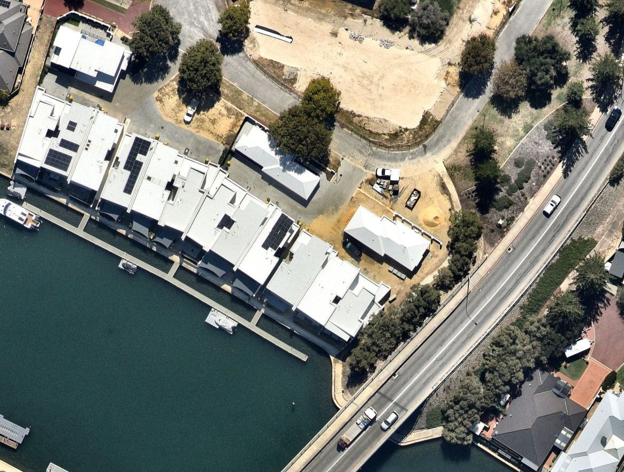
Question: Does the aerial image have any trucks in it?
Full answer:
Yes, there's a truck down there.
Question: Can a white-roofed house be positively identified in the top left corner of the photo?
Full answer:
Yes, there is a white-roofed house in the top left corner of the photo.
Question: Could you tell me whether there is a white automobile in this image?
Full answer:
Yes, the picture does show a white automobile.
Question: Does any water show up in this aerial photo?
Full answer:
Yes, some water is visible.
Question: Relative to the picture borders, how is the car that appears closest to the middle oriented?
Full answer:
In this picture, the car that appears closest to the middle lies at an angle.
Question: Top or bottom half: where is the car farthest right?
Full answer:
The top half of the photo is where the car farthest right is.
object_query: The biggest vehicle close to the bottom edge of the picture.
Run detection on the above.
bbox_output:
[337,406,379,451]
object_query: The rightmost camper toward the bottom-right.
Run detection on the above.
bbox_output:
[567,336,594,361]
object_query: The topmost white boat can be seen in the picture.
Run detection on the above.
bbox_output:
[0,200,43,232]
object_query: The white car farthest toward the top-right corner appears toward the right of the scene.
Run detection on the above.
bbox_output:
[541,194,563,218]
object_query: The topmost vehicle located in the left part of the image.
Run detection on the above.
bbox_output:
[185,94,205,125]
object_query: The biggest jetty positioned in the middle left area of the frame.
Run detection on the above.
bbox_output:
[21,202,308,362]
